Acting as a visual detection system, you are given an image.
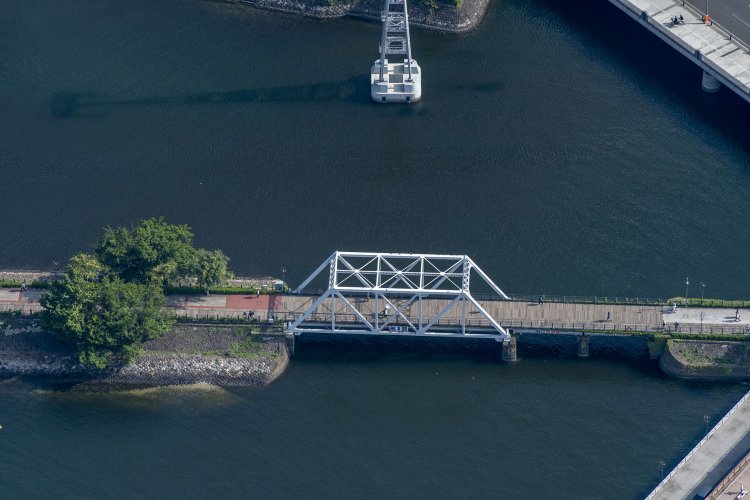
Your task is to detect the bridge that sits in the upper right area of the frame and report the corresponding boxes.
[584,0,750,103]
